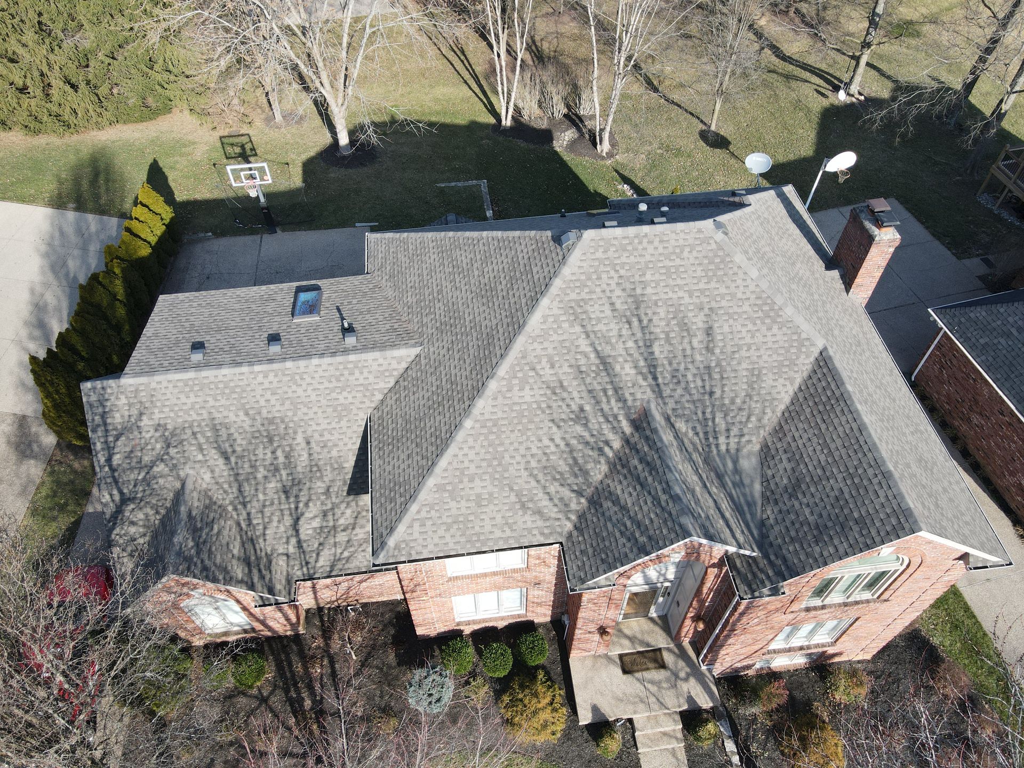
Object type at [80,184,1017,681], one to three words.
house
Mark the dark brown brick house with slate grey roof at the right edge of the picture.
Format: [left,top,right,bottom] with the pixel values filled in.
[909,286,1024,513]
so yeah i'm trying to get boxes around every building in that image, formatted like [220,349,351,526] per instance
[80,184,1017,681]
[909,286,1024,513]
